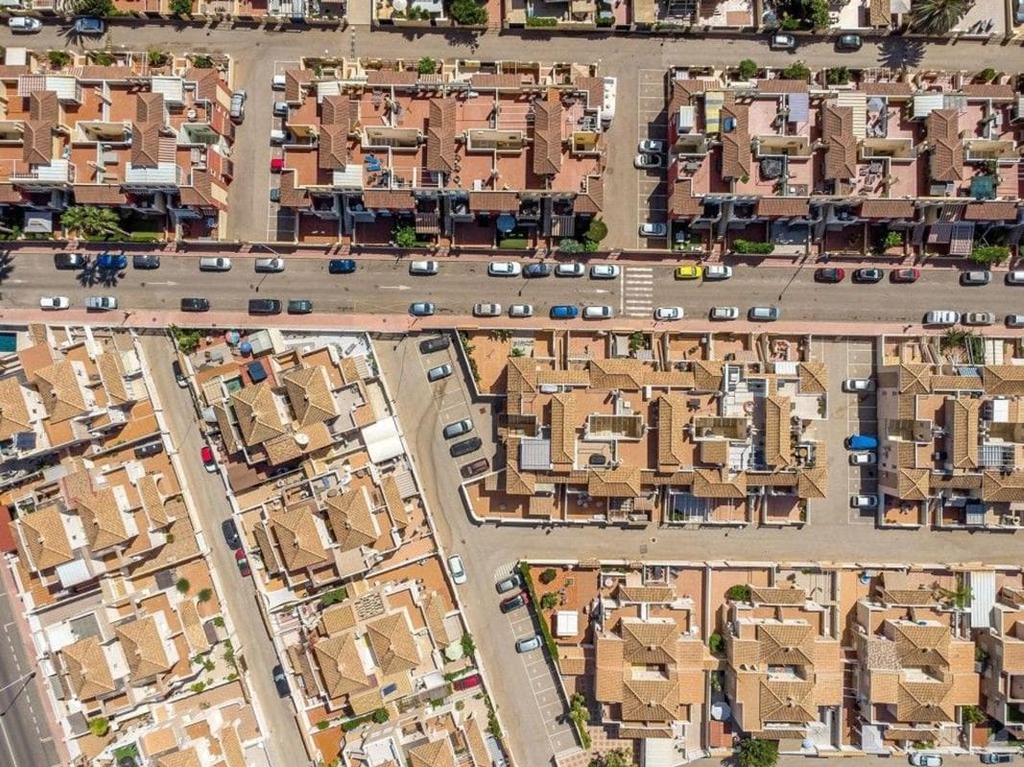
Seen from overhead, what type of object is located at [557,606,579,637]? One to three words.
gazebo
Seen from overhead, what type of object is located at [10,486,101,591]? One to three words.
house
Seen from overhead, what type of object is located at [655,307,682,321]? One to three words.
car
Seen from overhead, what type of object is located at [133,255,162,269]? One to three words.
car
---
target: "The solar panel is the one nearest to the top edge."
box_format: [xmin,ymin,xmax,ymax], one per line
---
[13,430,38,453]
